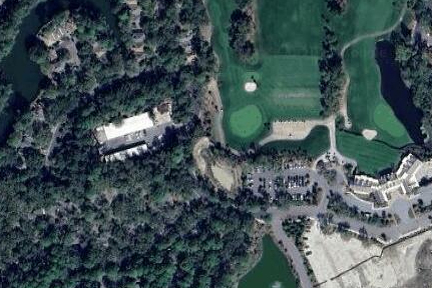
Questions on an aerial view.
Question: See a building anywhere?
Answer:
Yes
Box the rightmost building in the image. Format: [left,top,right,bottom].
[349,151,425,203]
